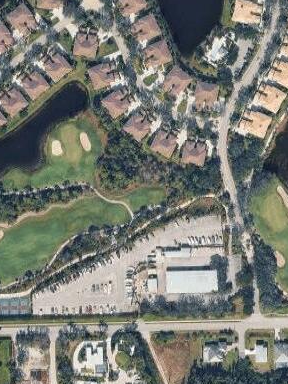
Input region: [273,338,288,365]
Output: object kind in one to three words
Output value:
house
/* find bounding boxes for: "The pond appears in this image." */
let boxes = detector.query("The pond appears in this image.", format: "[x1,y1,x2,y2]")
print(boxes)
[0,81,88,178]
